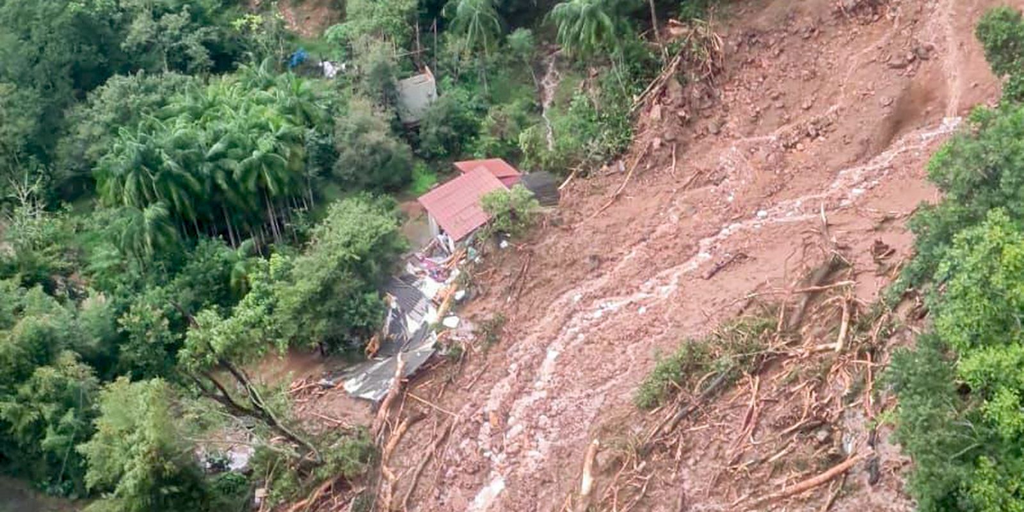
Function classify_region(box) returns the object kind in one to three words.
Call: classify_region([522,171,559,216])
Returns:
shed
